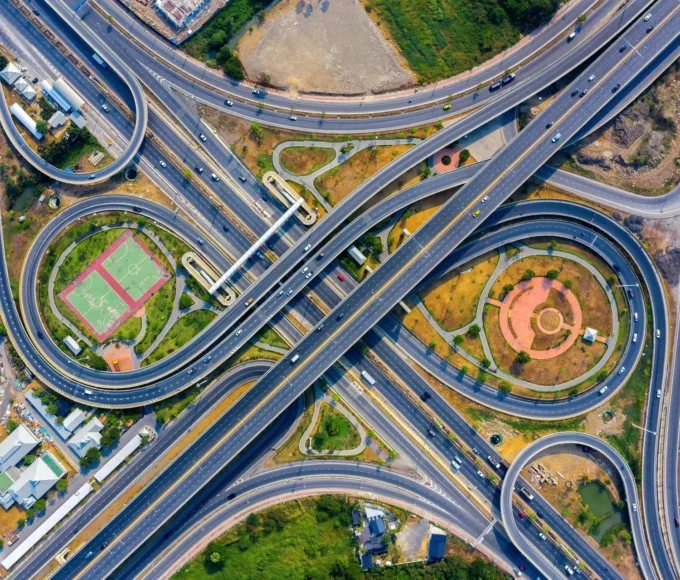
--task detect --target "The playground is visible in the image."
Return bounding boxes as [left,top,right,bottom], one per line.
[104,344,134,371]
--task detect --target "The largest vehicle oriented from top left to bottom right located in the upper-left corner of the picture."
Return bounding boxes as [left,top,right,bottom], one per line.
[89,50,107,67]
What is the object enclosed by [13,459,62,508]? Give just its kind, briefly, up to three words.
house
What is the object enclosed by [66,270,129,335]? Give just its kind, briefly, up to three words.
sports court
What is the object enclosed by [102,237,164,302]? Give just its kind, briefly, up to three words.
sports court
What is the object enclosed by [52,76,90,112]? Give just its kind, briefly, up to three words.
building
